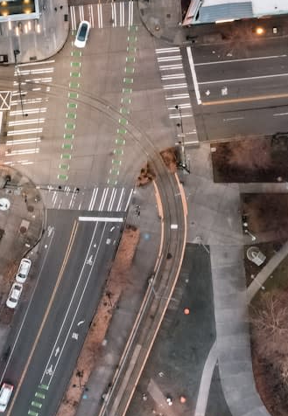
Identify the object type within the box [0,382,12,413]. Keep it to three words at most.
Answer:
vehicle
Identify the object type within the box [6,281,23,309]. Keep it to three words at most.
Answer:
car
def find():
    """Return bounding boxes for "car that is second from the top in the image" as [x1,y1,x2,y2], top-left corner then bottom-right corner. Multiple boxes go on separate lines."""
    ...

[16,256,31,284]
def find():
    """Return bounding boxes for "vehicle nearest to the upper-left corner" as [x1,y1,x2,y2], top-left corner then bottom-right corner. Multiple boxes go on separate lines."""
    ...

[75,18,90,47]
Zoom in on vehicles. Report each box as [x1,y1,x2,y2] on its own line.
[0,382,12,413]
[6,281,23,309]
[75,18,90,47]
[16,256,31,284]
